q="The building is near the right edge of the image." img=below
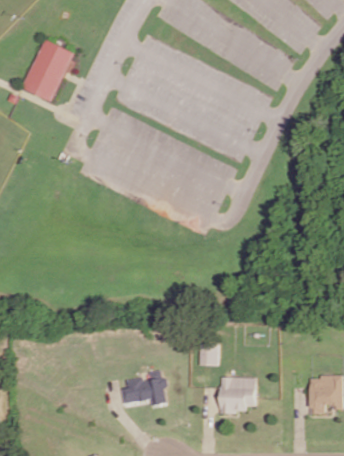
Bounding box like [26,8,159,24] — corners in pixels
[309,376,344,417]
